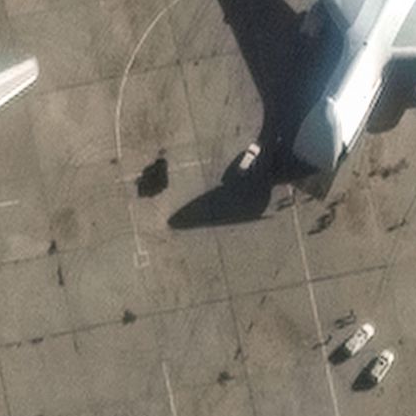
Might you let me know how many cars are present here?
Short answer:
3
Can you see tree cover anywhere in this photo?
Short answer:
No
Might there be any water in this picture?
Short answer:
No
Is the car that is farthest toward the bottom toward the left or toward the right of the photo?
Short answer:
right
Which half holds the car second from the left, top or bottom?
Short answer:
bottom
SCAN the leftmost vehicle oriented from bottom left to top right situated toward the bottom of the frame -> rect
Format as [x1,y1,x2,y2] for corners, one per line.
[341,321,375,355]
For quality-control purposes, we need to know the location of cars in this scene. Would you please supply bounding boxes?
[237,142,261,169]
[341,321,375,355]
[367,349,396,383]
